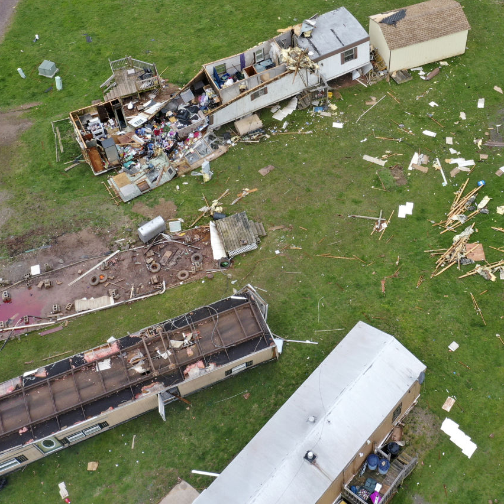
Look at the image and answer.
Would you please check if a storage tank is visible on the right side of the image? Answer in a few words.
No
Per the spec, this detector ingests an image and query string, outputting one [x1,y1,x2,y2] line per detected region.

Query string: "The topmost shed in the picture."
[373,0,470,72]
